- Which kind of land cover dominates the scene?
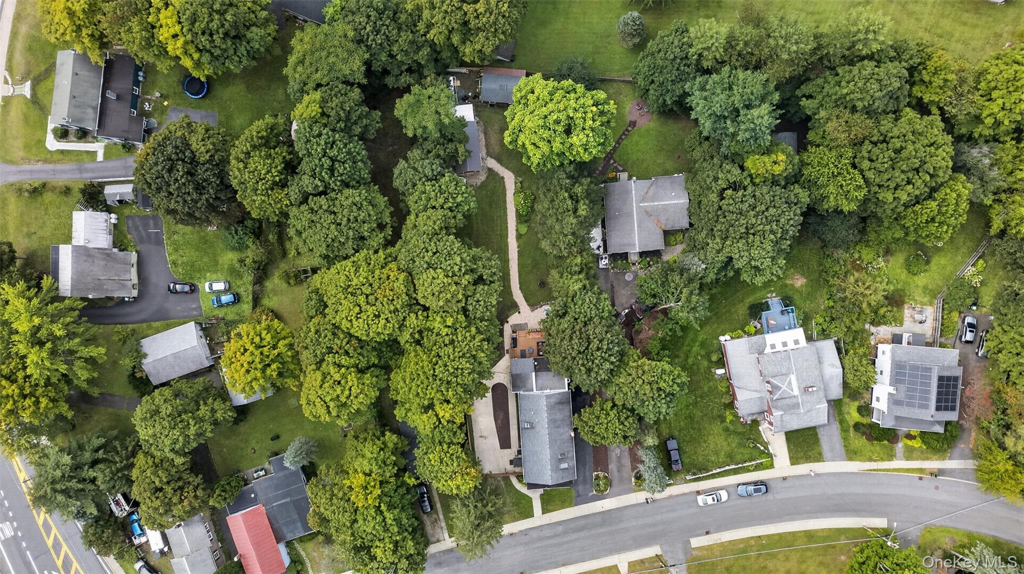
trees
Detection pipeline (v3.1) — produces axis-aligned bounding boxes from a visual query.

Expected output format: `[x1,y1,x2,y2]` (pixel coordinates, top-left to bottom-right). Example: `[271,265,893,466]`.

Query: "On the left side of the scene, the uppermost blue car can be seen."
[209,293,238,307]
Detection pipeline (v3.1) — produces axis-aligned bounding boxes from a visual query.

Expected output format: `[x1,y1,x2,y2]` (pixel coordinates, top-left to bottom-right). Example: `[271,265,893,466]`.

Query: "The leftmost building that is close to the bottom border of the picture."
[165,511,224,574]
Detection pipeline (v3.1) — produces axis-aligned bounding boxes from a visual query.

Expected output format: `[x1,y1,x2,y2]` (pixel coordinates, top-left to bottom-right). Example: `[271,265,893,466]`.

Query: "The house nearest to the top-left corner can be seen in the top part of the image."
[50,48,149,144]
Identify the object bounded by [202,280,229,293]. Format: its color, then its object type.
white vehicle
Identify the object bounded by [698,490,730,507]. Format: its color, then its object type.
white car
